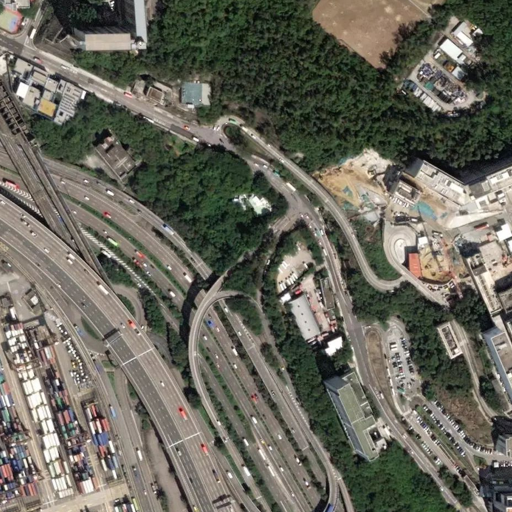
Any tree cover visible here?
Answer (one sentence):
Yes, tree cover shows up in the scene.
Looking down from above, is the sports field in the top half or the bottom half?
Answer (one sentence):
It is in the top half that the sports field appears.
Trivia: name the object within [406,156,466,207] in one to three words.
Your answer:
building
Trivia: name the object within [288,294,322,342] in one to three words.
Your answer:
building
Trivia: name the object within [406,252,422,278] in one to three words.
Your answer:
shed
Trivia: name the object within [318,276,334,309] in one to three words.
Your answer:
house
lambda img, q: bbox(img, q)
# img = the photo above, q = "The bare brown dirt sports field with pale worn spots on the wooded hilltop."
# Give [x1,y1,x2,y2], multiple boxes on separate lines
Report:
[312,0,435,68]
